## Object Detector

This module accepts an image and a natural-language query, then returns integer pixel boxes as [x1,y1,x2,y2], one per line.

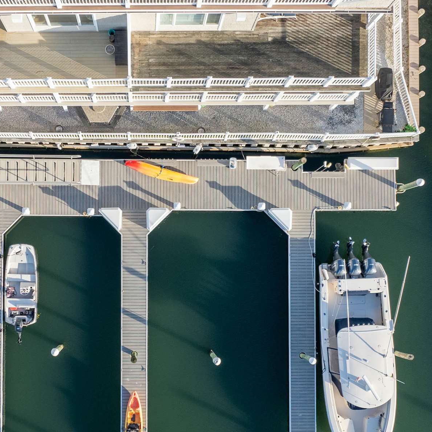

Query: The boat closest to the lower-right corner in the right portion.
[318,238,410,432]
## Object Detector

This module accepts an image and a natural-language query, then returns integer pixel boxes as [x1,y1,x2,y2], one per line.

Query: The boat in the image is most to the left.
[4,244,38,341]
